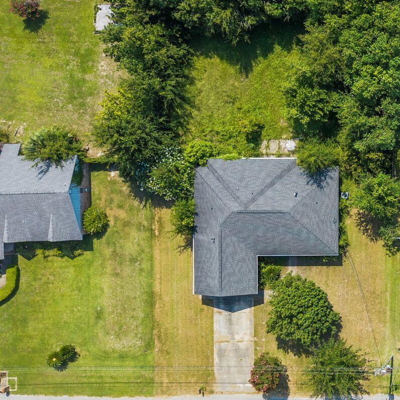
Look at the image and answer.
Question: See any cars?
No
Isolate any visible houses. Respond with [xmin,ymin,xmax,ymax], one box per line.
[0,143,92,260]
[193,158,340,297]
